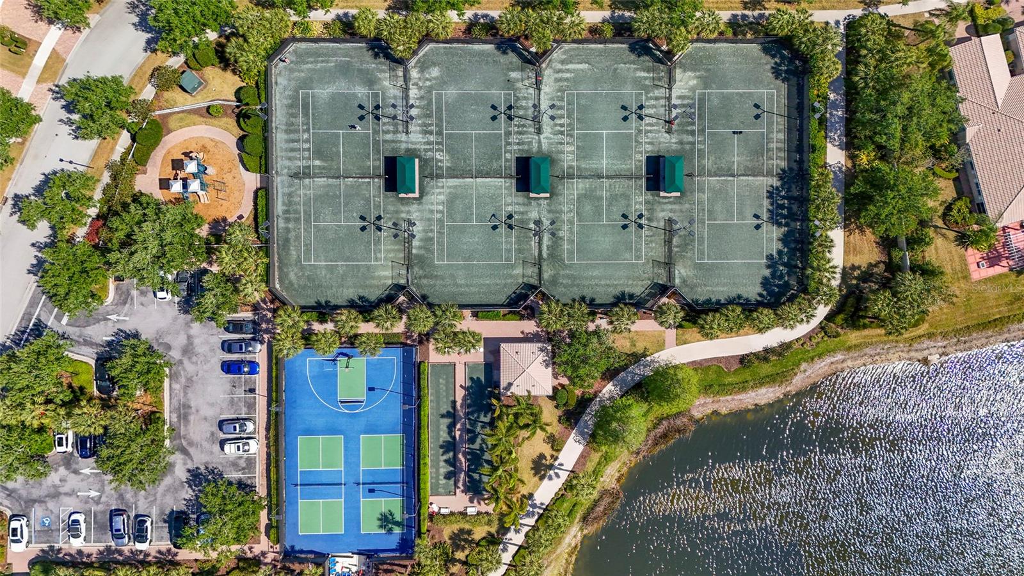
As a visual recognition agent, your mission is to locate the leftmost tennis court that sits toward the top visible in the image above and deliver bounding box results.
[275,43,408,308]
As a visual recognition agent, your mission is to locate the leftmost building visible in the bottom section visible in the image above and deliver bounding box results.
[500,341,553,396]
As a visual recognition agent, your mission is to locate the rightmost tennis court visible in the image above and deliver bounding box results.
[671,44,800,309]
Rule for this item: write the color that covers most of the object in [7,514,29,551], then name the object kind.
white car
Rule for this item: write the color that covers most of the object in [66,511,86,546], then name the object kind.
white car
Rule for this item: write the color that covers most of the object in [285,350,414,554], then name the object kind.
blue basketball court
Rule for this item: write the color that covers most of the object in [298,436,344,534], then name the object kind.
green sports court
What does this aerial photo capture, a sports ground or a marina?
sports ground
